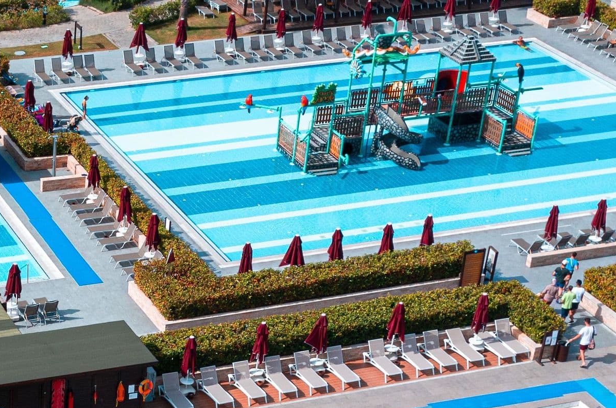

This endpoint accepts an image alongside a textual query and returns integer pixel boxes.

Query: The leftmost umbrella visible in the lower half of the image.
[5,262,22,326]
